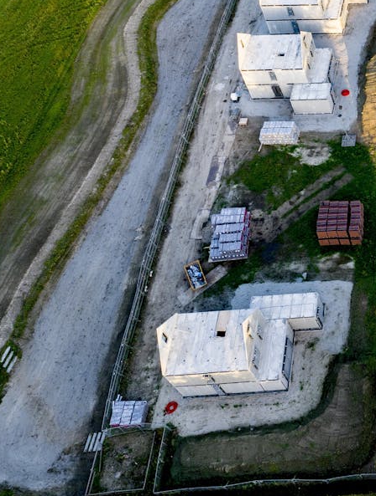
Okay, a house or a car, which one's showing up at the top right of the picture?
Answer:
house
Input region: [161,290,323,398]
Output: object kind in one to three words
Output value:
house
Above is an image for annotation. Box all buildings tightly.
[161,290,323,398]
[241,35,339,114]
[260,0,368,33]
